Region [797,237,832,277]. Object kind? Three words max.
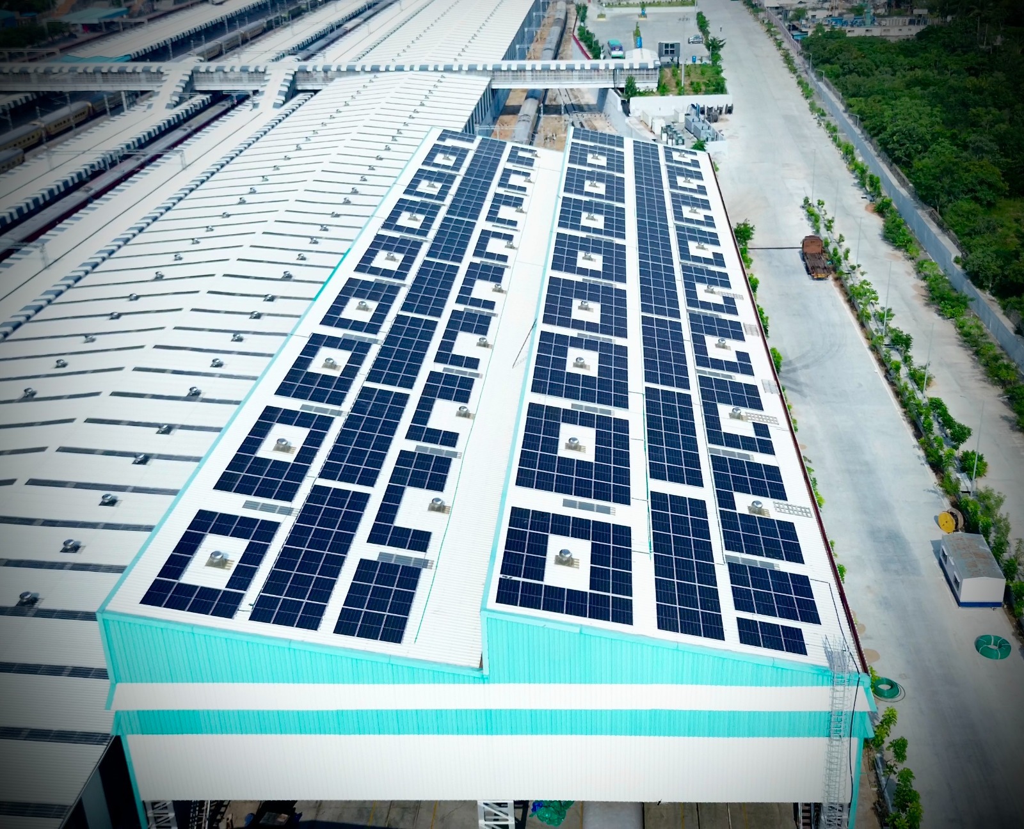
truck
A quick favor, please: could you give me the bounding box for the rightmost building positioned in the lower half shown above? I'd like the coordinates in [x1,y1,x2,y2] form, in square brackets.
[938,531,1010,608]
